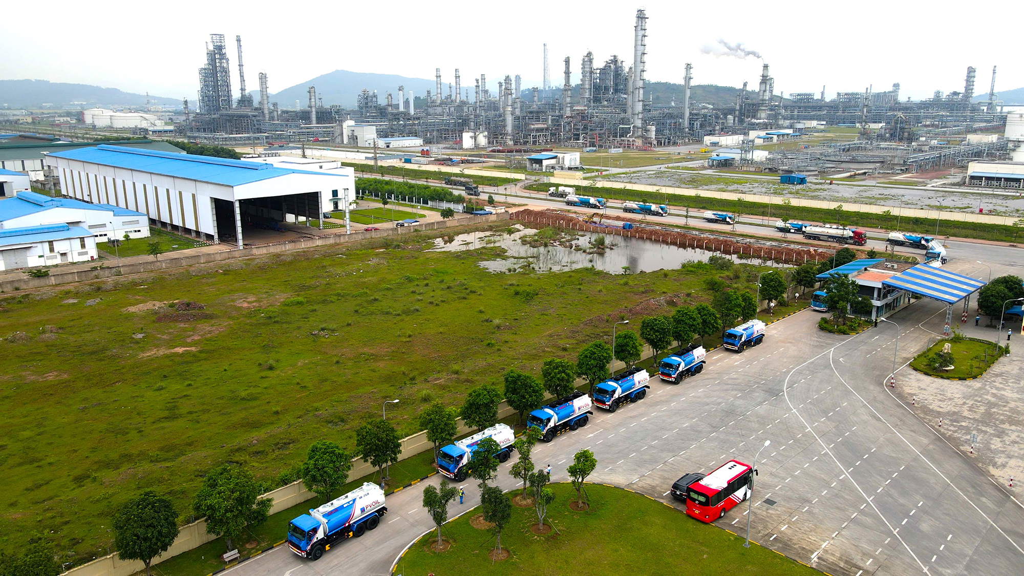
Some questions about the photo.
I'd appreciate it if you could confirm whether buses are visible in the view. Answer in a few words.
Yes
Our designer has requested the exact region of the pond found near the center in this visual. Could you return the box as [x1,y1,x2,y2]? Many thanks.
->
[425,223,794,274]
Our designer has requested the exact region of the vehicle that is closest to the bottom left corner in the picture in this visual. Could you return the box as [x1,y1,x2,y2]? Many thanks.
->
[280,483,394,562]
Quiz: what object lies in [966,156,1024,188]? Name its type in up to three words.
building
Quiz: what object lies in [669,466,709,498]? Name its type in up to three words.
car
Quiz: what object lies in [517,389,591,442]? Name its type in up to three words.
truck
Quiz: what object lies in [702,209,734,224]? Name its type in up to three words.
vehicle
